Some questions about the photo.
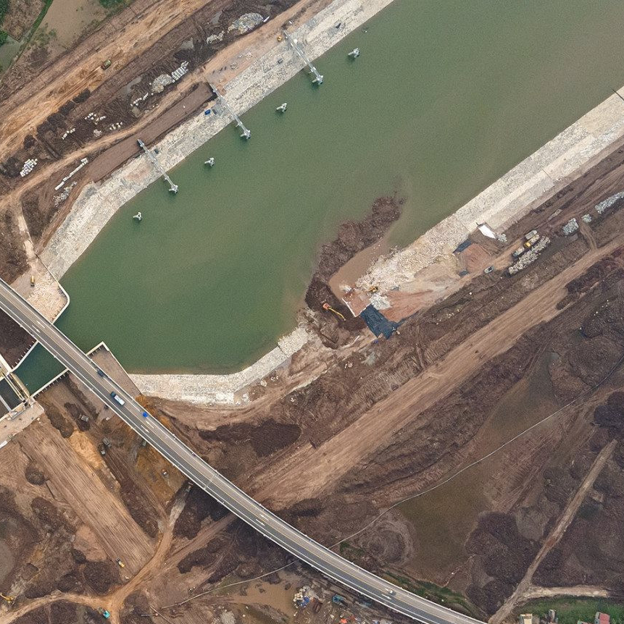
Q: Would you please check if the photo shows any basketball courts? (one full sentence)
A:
No, this view has no basketball court in it.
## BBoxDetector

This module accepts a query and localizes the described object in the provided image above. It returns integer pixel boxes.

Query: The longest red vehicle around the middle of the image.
[322,301,347,322]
